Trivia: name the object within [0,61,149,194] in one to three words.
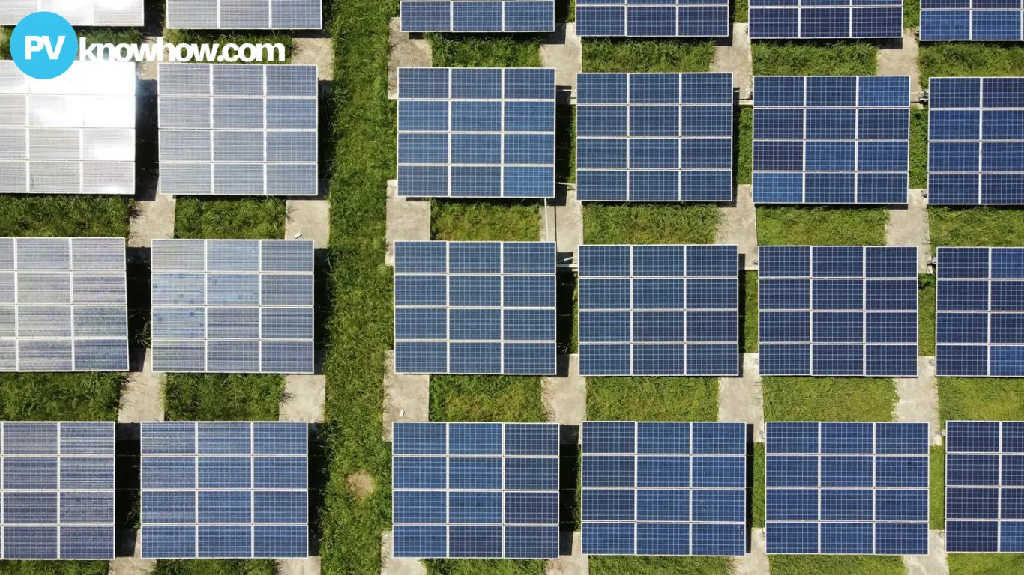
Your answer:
solar array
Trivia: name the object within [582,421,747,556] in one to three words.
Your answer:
solar array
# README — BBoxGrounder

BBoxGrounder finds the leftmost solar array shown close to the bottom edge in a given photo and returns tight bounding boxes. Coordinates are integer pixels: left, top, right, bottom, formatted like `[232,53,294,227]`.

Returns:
[0,422,128,559]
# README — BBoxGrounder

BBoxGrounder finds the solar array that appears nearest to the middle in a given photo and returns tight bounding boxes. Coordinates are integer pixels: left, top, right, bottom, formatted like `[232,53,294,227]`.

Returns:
[394,242,557,374]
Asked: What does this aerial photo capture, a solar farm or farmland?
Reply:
solar farm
